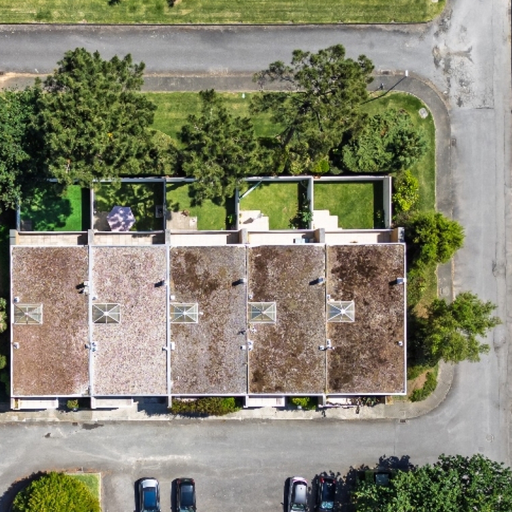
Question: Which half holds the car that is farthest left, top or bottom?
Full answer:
You can find the car that is farthest left in the bottom half.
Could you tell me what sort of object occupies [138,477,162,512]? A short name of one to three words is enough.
car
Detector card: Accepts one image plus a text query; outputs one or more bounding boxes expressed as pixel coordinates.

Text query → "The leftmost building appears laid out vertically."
[10,231,90,409]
